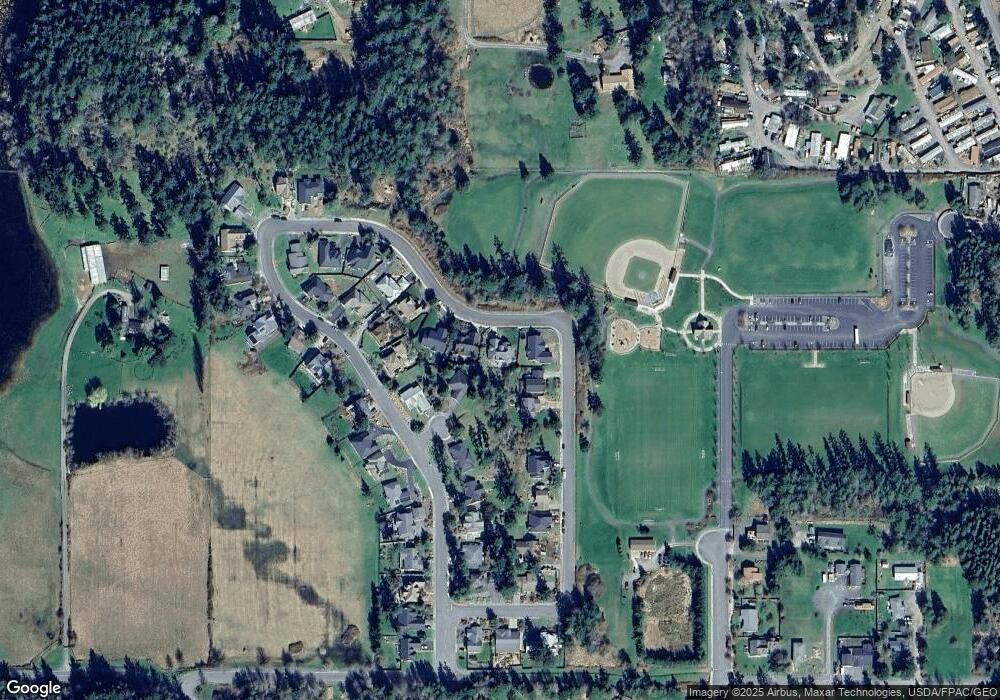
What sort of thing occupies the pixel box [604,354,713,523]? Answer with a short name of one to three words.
soccer field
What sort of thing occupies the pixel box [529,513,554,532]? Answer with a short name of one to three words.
house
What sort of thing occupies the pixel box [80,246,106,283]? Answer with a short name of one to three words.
barn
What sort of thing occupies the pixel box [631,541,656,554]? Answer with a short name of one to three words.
building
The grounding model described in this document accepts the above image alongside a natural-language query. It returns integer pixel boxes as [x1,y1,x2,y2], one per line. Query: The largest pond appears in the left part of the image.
[70,397,171,466]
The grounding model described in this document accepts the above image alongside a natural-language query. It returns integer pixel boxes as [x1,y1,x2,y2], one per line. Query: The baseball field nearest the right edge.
[911,369,999,460]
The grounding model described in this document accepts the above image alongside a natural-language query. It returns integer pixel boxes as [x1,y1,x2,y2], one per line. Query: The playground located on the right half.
[610,319,660,354]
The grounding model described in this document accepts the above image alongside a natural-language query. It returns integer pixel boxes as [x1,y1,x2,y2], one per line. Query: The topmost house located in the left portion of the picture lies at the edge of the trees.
[289,9,316,30]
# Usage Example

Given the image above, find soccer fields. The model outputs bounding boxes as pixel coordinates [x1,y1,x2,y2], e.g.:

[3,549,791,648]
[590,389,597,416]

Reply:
[604,354,713,523]
[741,353,887,446]
[714,185,871,293]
